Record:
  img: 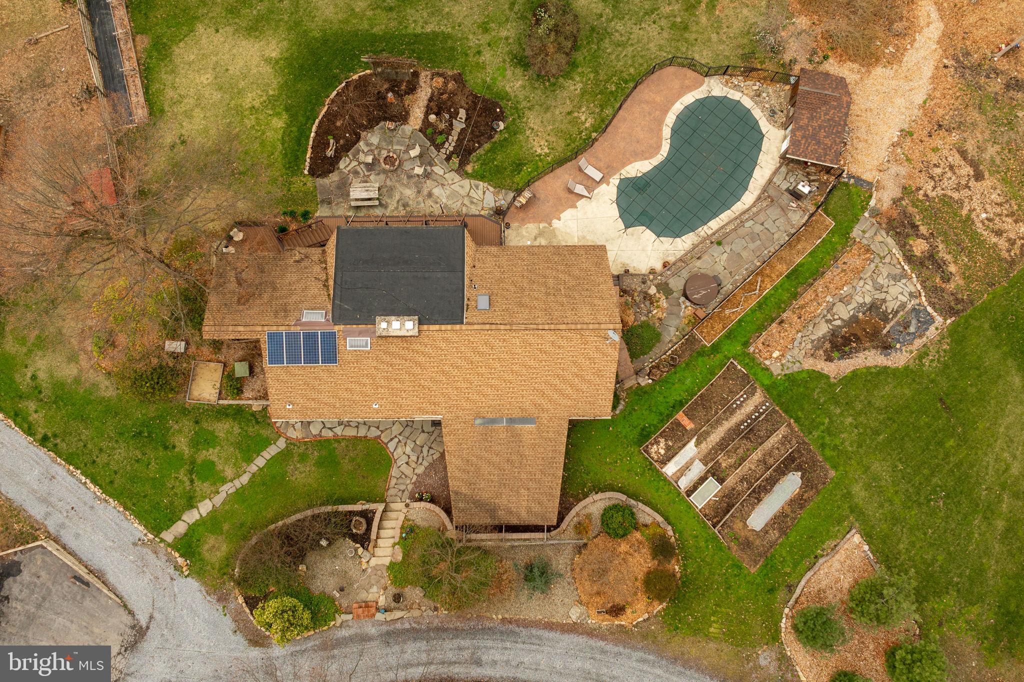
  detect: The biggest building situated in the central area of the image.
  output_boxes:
[202,226,621,525]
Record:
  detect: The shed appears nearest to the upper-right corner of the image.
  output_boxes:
[776,67,851,172]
